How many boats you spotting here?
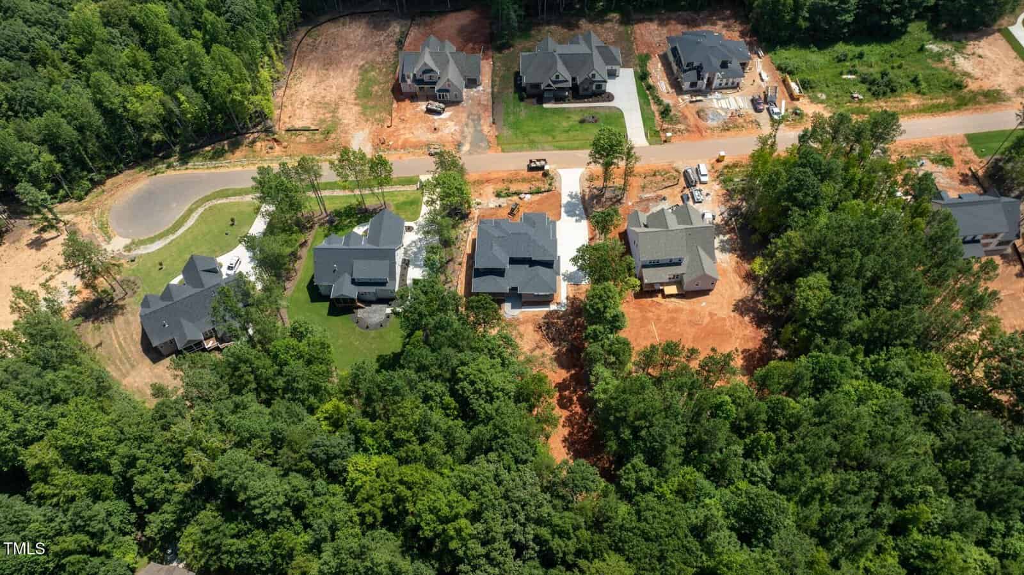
0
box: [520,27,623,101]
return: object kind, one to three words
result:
house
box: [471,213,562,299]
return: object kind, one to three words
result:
house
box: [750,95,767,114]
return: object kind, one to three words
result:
vehicle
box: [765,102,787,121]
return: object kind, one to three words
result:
vehicle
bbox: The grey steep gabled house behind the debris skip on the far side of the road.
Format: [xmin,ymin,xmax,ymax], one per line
[400,28,483,102]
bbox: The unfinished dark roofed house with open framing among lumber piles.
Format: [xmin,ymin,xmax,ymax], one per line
[664,28,753,93]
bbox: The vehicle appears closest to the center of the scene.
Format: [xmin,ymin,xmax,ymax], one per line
[505,204,521,221]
